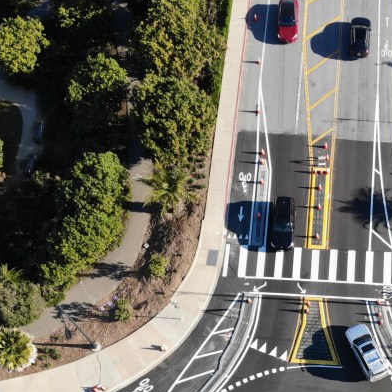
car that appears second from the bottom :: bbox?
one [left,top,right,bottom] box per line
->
[270,197,298,251]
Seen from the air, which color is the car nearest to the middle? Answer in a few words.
black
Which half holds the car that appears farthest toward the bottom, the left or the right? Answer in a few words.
right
